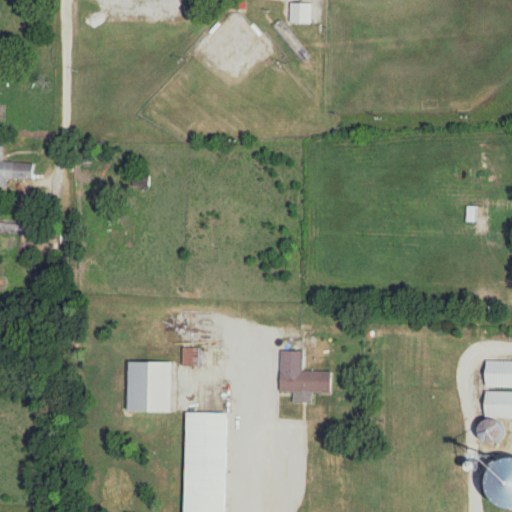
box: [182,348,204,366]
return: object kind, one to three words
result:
shed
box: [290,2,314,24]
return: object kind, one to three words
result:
shed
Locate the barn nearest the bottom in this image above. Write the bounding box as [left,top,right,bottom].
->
[186,412,228,512]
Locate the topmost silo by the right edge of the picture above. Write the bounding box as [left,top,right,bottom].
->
[476,418,505,444]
